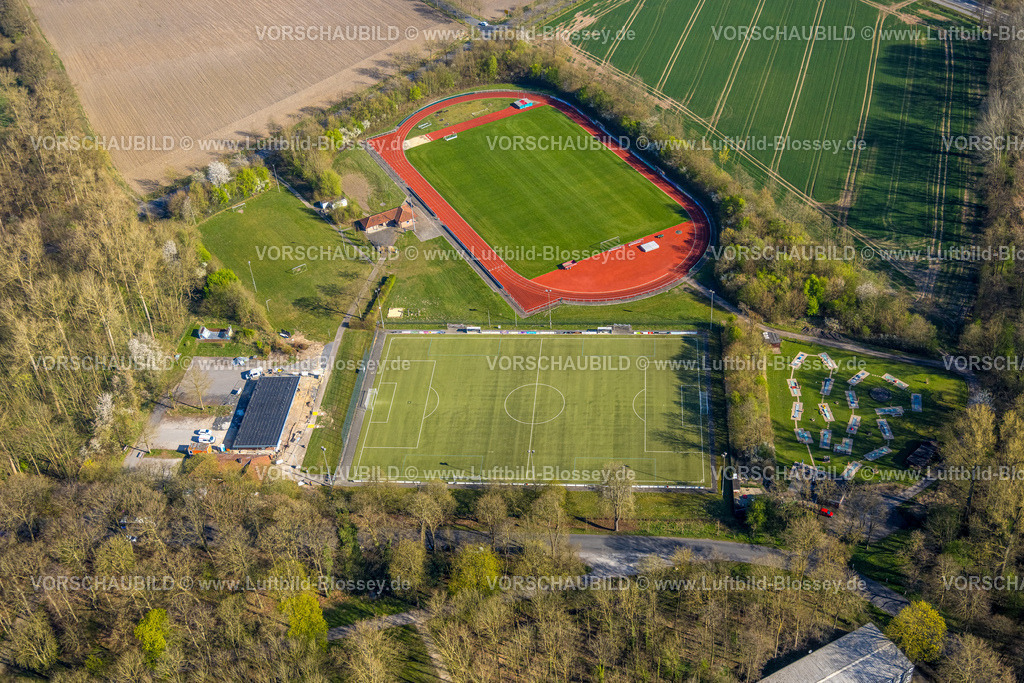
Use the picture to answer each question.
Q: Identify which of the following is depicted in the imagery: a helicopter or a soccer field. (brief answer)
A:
soccer field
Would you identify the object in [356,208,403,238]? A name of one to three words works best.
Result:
building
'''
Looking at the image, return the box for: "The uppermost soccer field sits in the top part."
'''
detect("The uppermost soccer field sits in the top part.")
[404,96,696,292]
